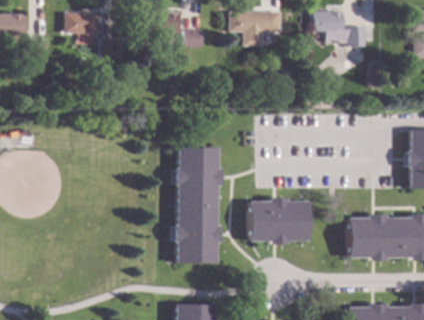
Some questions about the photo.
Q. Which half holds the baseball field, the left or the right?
left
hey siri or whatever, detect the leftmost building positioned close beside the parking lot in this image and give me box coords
[175,148,224,262]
